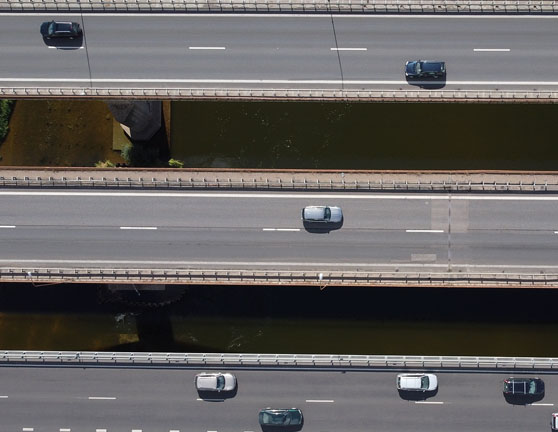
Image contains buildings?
No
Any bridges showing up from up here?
Yes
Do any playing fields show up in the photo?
No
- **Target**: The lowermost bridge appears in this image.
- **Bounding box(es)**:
[0,349,558,432]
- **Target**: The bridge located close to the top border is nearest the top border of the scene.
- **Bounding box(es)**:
[0,0,558,141]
